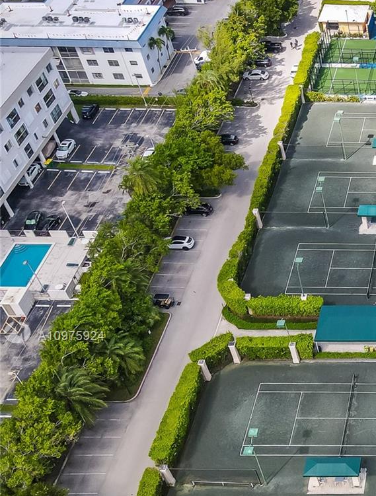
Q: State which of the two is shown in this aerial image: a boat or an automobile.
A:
automobile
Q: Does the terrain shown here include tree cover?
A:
Yes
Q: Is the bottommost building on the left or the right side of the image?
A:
right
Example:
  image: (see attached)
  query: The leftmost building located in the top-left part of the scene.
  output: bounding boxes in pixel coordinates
[0,44,77,215]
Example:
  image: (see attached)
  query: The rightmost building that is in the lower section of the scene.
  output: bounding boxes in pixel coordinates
[316,305,376,352]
